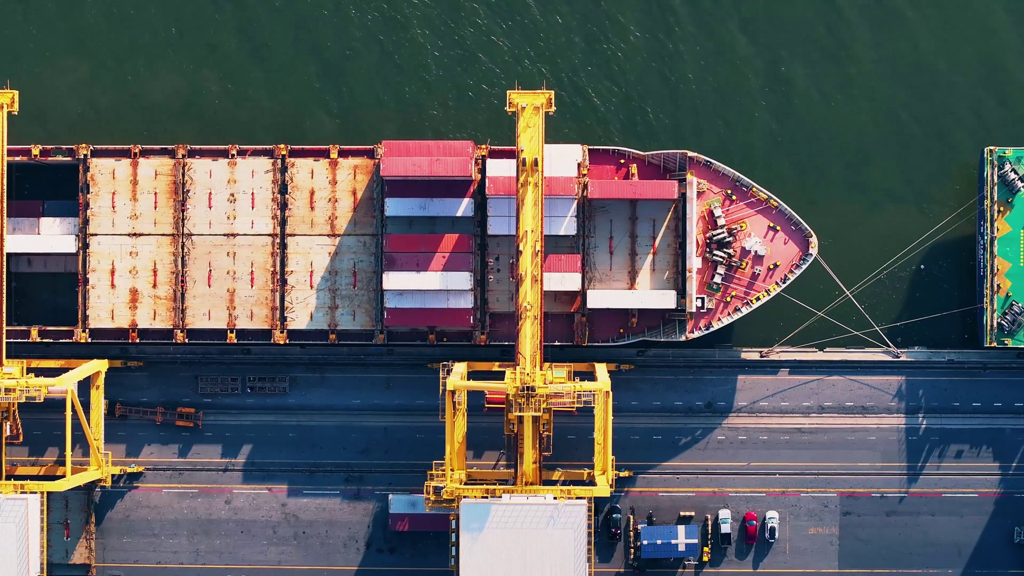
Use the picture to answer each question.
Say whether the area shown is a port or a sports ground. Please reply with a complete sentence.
The area seen from above is a port.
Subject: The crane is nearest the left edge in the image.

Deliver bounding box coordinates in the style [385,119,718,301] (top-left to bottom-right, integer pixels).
[0,82,145,576]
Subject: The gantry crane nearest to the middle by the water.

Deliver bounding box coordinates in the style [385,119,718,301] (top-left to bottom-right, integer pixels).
[416,78,636,576]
